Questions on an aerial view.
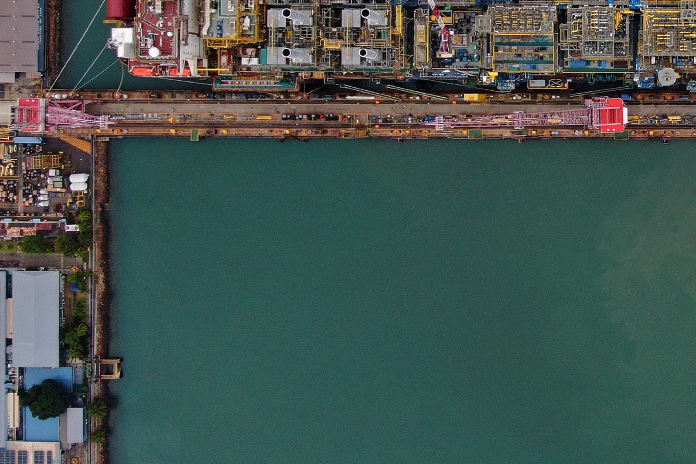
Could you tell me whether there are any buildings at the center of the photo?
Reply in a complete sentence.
No, I see no building at the center of the photo.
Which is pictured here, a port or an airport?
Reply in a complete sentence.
It's a port.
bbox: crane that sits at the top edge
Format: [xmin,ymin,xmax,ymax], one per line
[428,0,453,61]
